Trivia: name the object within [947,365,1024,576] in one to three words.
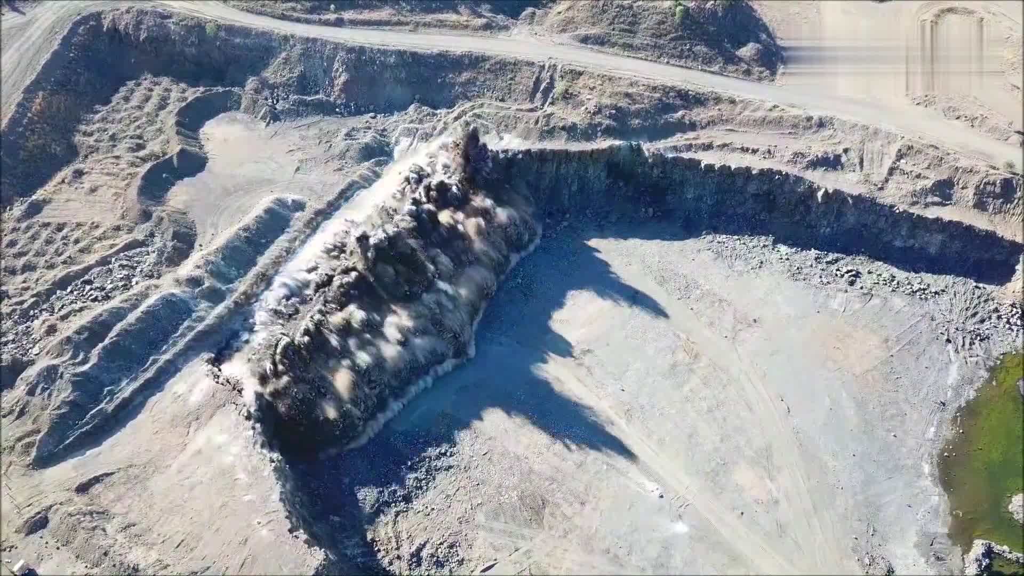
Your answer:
pond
